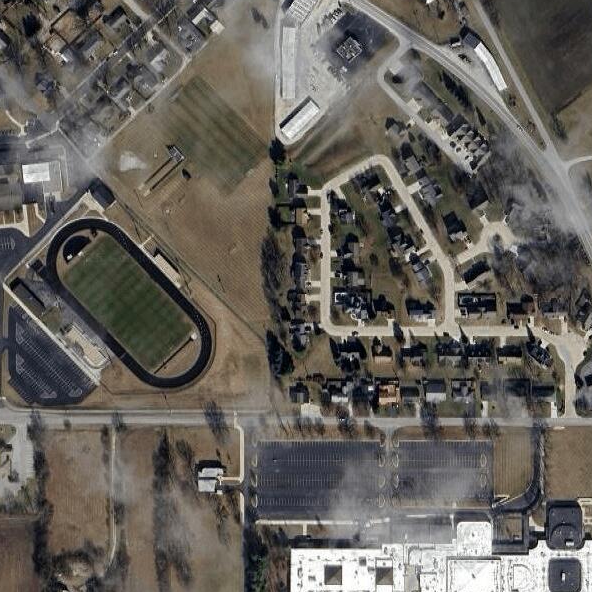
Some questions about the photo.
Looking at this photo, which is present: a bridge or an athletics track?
athletics track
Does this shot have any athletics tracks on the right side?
No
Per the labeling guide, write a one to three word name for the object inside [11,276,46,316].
building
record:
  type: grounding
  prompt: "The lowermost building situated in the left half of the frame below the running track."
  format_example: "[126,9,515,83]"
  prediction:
[198,468,223,494]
